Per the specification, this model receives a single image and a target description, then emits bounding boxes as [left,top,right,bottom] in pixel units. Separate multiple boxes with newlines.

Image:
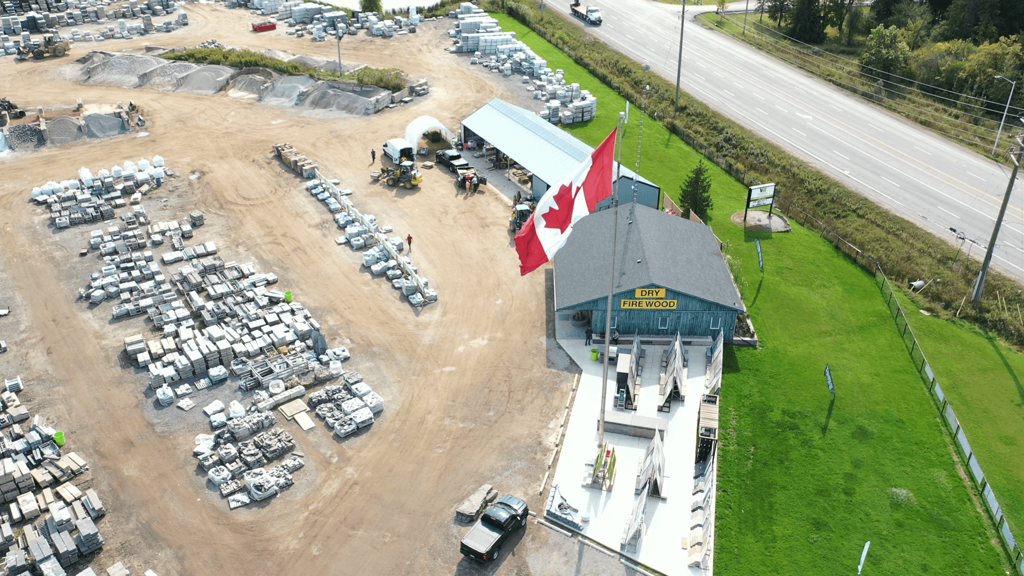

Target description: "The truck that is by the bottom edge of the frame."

[461,497,532,565]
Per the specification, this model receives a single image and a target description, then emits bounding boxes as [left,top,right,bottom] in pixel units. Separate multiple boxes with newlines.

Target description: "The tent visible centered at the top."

[401,113,452,153]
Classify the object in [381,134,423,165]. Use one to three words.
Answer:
van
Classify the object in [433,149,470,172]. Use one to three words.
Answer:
truck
